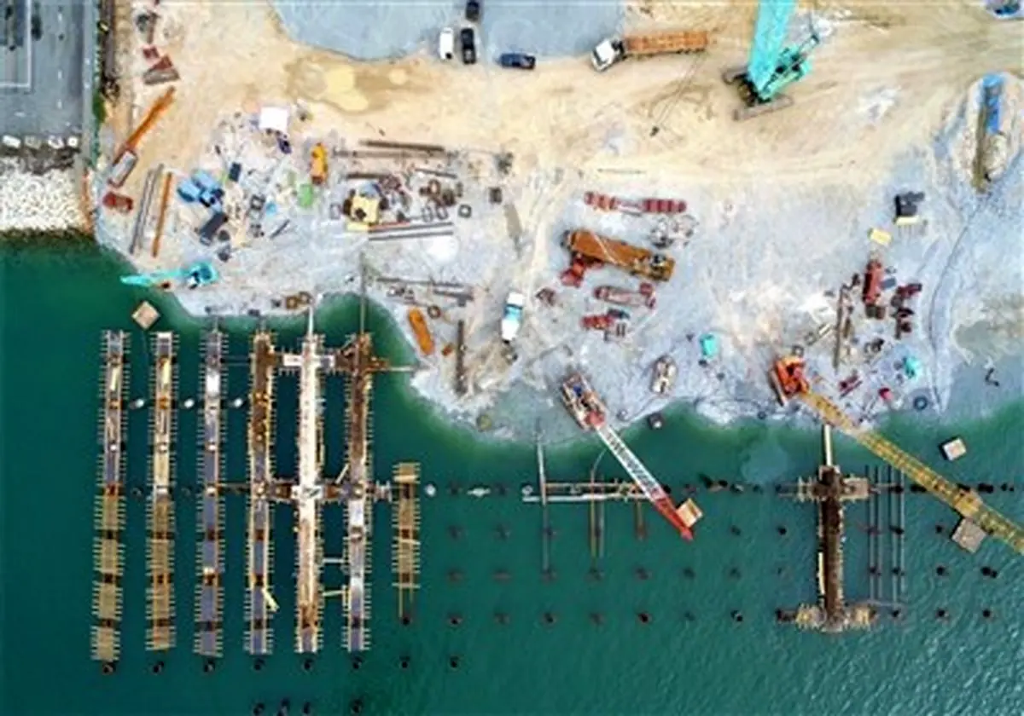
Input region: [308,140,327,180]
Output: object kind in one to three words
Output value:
vehicle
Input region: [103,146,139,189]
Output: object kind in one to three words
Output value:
trailer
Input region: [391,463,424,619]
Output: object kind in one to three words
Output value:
pier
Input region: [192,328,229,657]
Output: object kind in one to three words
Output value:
pier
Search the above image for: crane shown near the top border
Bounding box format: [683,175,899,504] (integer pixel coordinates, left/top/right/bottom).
[736,0,825,109]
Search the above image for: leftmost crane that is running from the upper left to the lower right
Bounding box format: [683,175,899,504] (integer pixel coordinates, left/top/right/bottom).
[559,373,693,542]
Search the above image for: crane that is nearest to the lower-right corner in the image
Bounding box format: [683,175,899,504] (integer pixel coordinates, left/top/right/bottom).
[766,347,1024,559]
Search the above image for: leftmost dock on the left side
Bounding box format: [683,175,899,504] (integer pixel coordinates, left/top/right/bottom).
[90,330,131,663]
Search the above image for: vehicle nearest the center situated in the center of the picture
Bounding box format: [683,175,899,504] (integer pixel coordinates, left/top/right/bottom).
[502,290,522,343]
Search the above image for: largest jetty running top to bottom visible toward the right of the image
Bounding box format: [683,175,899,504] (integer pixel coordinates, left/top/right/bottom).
[815,467,846,632]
